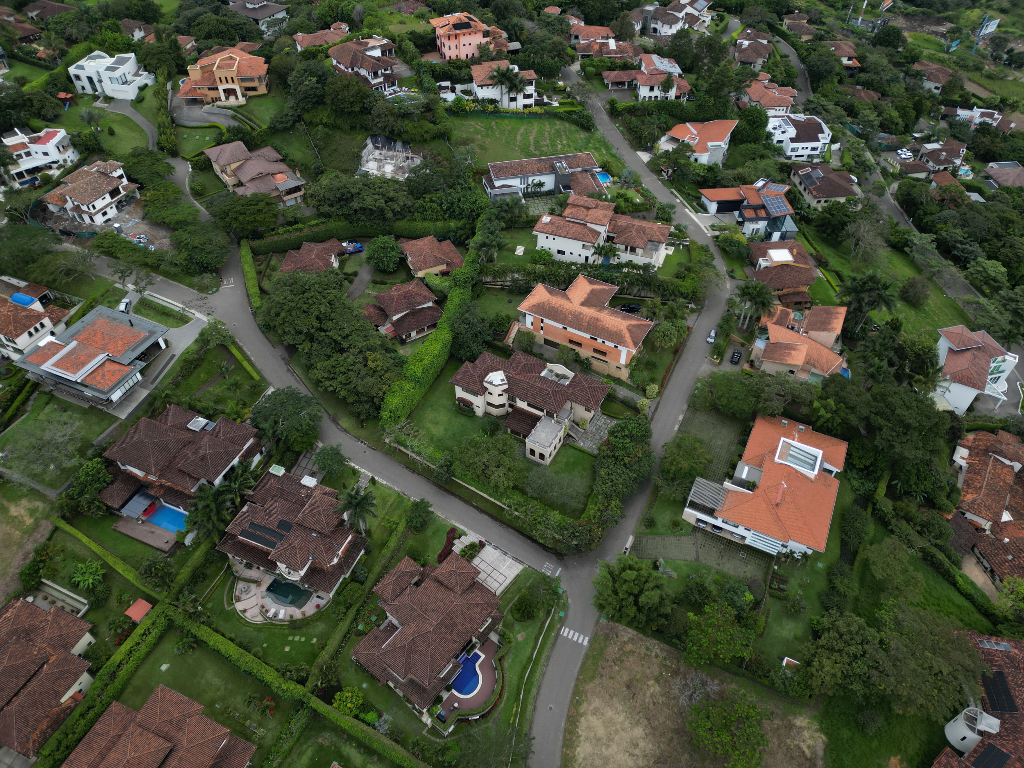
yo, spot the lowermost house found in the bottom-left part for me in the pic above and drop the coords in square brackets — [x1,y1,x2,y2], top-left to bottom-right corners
[58,683,259,768]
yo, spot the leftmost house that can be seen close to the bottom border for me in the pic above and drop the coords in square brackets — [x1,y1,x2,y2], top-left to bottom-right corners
[0,597,100,762]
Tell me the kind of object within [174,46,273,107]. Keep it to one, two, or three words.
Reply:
house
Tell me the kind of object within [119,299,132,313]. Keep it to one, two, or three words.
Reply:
vehicle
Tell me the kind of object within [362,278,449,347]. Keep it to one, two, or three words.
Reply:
house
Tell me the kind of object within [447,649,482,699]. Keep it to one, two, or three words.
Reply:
swimming pool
